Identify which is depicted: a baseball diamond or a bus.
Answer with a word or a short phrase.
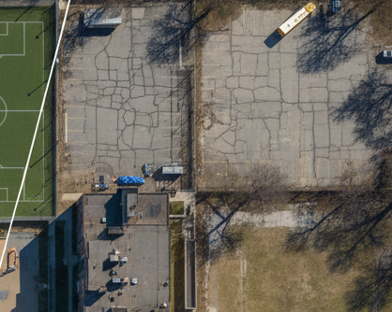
bus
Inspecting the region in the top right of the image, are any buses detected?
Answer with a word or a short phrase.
Yes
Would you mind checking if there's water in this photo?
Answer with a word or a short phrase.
No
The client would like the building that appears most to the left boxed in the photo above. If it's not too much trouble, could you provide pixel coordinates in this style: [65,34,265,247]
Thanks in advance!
[77,188,170,312]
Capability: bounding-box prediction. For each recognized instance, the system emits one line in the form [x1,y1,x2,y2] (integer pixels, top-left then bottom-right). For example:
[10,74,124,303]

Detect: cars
[381,48,392,58]
[93,179,112,190]
[329,0,340,13]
